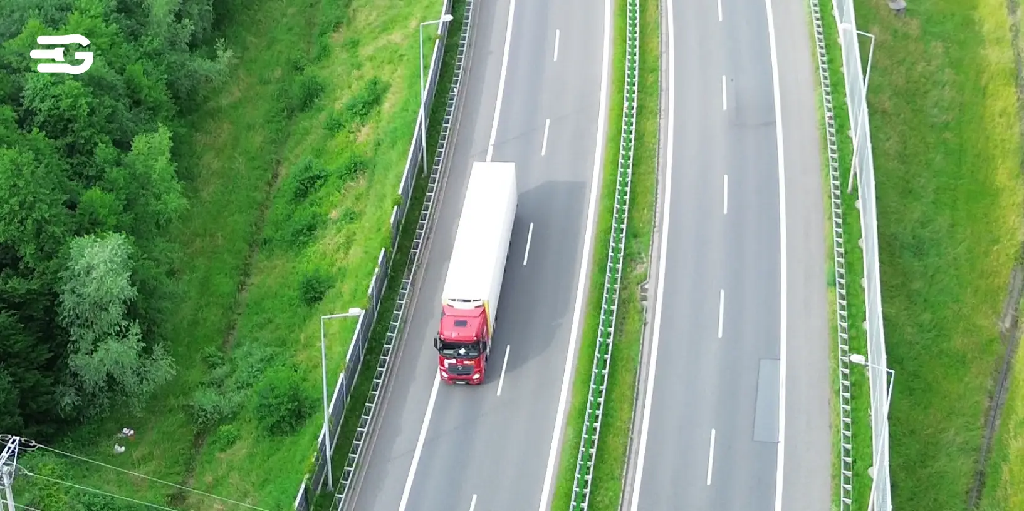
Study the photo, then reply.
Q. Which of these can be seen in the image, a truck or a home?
truck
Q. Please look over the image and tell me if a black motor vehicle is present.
No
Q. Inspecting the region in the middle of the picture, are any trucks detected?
Yes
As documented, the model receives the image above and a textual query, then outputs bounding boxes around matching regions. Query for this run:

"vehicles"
[431,162,515,384]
